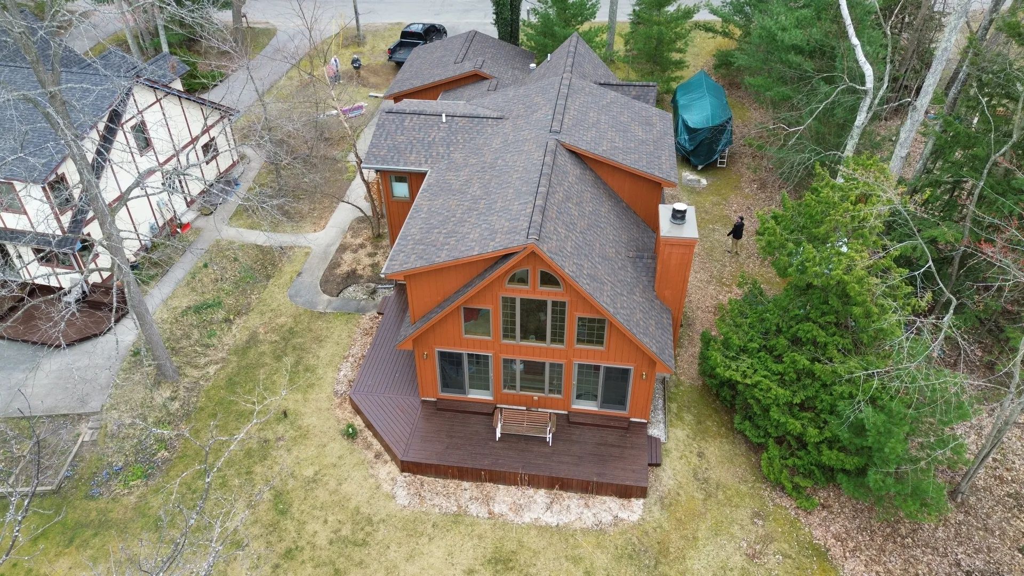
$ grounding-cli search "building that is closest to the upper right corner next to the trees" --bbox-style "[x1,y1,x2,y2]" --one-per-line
[360,23,696,422]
